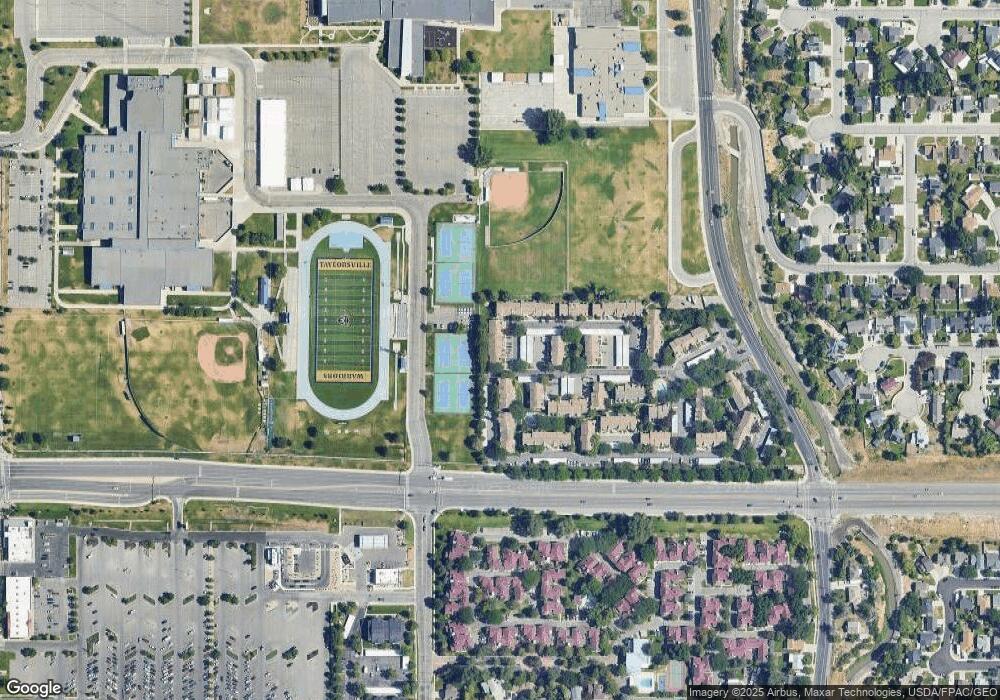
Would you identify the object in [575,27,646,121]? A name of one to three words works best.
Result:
building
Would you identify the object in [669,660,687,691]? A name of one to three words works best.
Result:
sports court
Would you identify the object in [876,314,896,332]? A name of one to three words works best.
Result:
house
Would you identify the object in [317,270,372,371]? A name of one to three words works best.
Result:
sports field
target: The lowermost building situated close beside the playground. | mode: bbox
[388,19,424,77]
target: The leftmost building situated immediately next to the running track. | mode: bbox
[83,75,213,306]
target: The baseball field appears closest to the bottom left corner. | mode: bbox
[198,333,248,382]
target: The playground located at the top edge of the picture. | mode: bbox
[424,26,456,47]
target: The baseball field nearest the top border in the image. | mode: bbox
[491,173,528,213]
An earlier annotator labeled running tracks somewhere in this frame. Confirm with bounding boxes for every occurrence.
[296,222,393,420]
